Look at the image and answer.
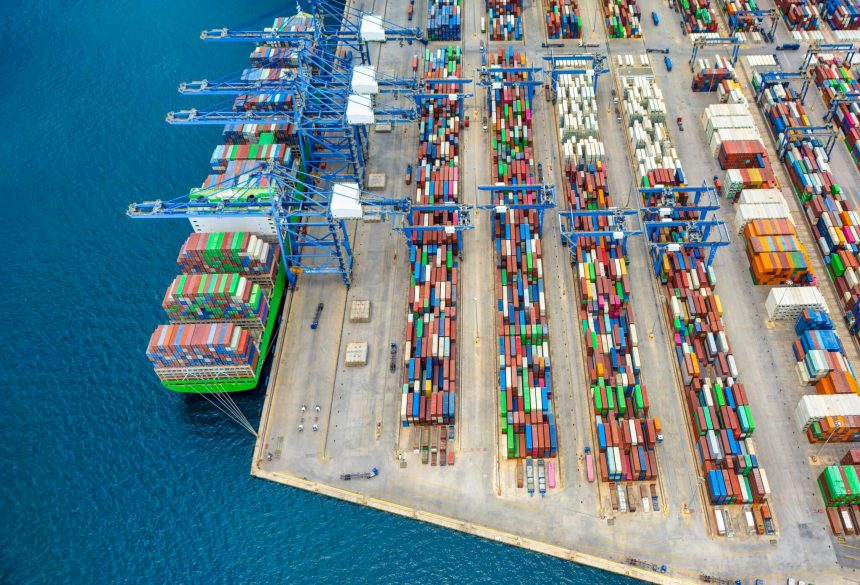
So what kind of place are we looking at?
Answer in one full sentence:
The picture captures a port.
